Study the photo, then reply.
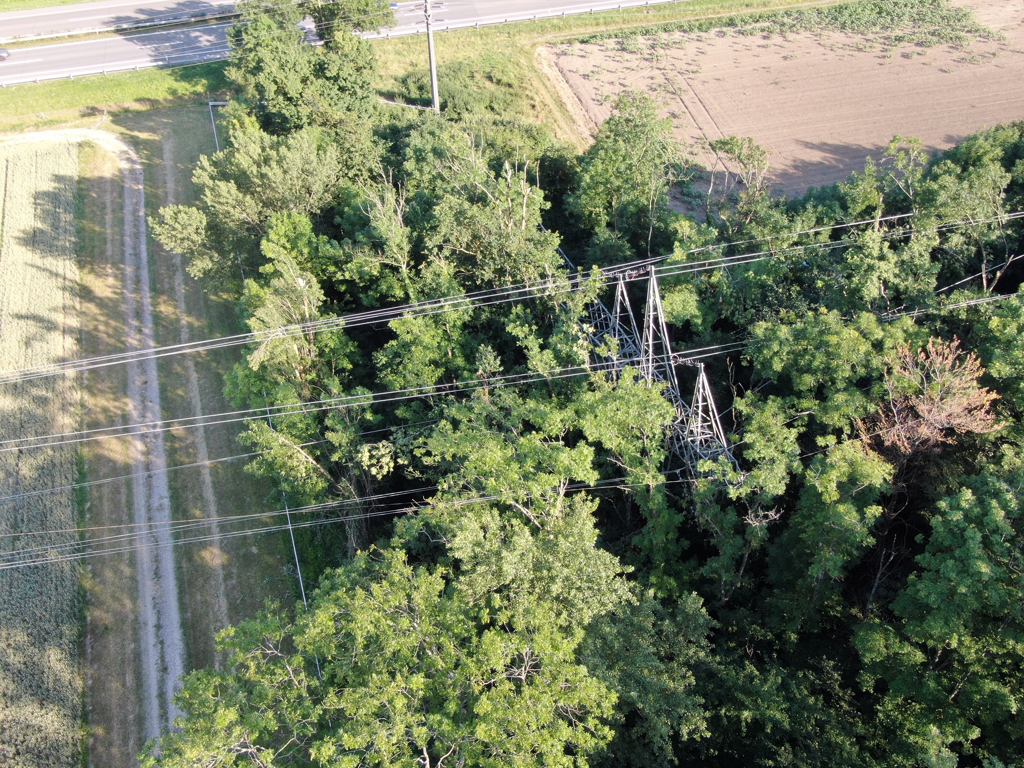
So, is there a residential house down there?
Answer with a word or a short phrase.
No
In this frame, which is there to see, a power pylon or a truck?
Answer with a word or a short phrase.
power pylon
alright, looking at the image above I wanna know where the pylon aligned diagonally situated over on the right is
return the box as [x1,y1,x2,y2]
[528,229,754,510]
